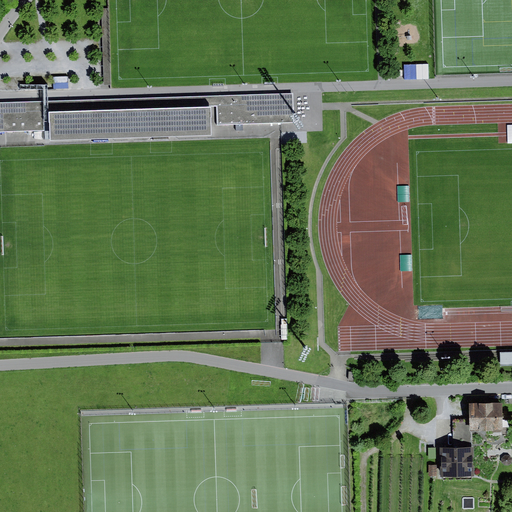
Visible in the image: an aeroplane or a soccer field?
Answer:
soccer field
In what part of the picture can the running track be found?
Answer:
right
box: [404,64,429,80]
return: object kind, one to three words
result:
building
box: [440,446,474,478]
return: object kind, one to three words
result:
house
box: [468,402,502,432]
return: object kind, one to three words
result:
house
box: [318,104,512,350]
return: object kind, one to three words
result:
running track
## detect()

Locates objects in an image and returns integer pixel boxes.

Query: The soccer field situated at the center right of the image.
[409,122,512,306]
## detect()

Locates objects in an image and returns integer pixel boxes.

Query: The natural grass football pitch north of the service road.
[110,0,376,88]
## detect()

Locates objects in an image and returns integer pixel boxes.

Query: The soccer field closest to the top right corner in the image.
[434,0,512,74]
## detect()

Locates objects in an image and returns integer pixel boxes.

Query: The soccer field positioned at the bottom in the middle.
[81,408,351,512]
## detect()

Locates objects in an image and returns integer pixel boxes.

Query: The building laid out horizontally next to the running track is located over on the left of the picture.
[0,93,294,132]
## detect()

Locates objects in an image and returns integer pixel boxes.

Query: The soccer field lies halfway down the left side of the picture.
[0,138,276,338]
